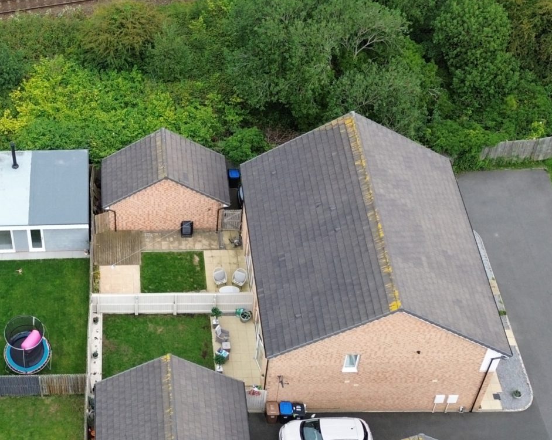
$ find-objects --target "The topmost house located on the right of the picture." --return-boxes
[240,110,515,416]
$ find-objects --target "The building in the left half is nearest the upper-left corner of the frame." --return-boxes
[100,127,232,233]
